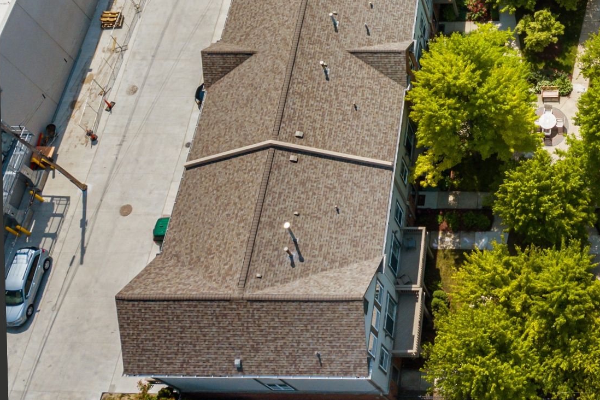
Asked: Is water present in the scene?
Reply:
No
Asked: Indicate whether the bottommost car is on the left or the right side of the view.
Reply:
left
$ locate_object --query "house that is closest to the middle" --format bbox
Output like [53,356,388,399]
[108,0,459,400]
